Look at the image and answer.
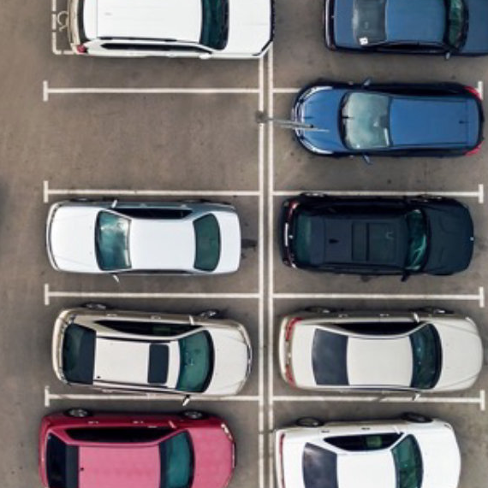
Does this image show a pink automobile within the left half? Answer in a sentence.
Yes, looking within the left half, one can make out a pink automobile.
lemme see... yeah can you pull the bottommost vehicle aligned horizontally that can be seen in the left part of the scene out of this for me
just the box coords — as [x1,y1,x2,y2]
[42,407,236,488]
